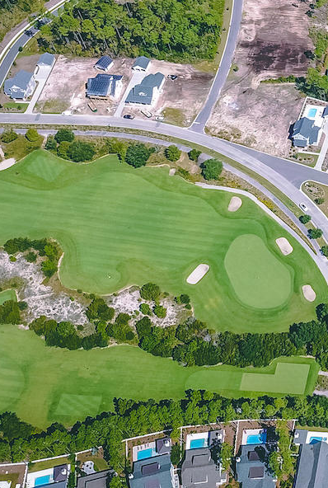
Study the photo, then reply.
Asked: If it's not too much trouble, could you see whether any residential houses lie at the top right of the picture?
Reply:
Yes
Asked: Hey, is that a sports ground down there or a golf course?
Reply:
golf course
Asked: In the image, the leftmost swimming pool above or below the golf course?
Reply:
below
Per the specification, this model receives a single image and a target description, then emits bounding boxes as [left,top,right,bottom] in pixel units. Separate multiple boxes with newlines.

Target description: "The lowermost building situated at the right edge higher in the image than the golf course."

[293,116,320,148]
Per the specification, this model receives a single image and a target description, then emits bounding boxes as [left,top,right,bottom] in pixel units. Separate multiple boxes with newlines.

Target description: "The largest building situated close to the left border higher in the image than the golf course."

[1,67,38,101]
